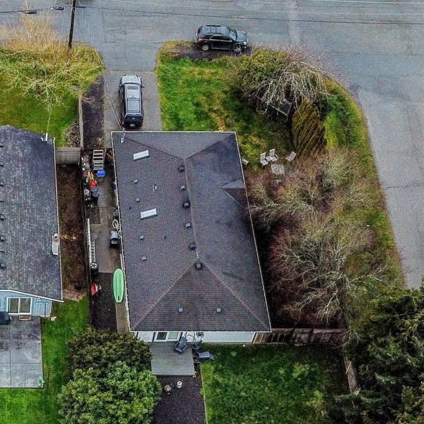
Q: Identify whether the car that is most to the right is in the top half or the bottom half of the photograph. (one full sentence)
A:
The car that is most to the right sits in the top half of the picture.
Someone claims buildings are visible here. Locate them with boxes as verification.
[112,129,271,348]
[0,128,63,321]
